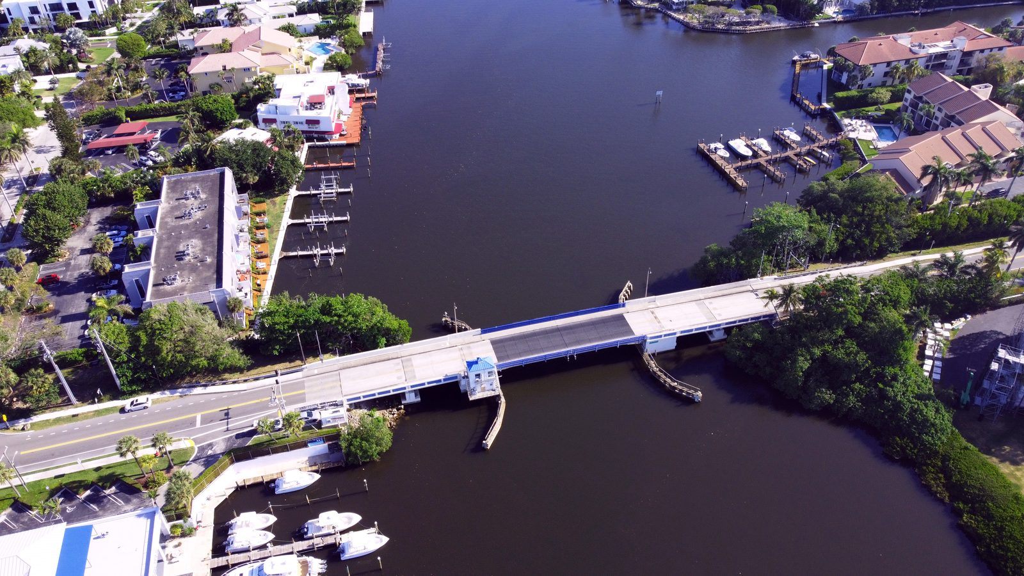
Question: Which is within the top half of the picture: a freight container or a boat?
boat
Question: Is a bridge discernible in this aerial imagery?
Yes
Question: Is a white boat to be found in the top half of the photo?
Yes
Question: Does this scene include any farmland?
No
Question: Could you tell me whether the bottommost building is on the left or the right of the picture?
left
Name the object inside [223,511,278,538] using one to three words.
boat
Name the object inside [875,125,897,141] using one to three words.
swimming pool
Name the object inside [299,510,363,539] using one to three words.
boat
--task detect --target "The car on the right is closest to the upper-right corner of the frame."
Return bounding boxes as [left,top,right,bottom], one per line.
[986,186,1007,198]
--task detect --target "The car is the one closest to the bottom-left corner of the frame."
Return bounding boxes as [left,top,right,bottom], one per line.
[125,396,151,411]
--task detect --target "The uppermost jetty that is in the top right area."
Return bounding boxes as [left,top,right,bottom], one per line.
[789,55,837,113]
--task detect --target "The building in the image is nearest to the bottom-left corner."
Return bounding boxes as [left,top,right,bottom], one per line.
[0,506,171,576]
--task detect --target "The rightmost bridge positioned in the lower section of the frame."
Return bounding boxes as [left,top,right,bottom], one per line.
[305,276,776,430]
